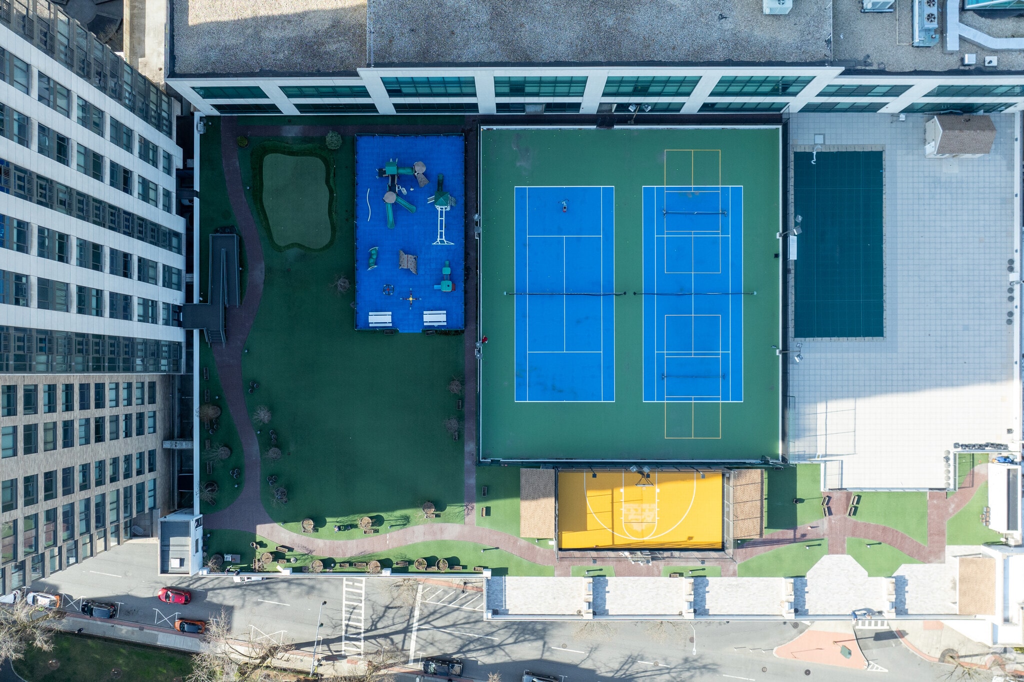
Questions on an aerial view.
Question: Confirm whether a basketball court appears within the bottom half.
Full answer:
Yes, a basketball court is visible within the bottom half.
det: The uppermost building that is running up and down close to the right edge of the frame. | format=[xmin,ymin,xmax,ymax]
[989,464,1024,543]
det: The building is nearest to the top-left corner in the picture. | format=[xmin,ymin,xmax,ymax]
[0,0,194,375]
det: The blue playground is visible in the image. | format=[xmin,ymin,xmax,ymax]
[356,136,464,333]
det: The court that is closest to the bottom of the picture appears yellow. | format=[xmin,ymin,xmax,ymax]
[556,465,726,551]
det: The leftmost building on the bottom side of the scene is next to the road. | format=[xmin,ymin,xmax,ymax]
[0,375,172,598]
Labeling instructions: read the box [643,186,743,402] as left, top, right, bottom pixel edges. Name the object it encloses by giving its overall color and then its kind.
blue tennis court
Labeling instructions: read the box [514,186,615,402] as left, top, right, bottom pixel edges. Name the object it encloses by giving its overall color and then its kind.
blue tennis court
